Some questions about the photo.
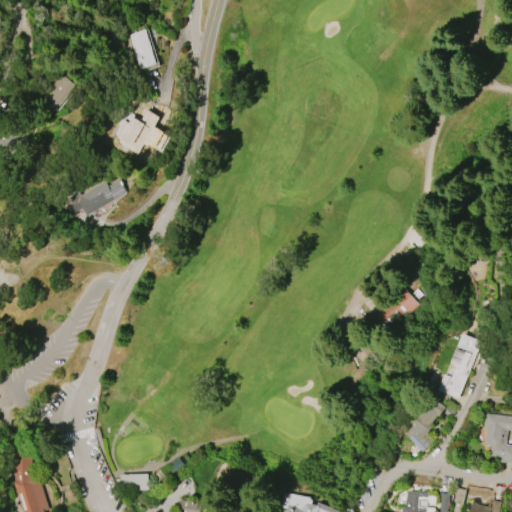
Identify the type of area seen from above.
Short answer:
golf course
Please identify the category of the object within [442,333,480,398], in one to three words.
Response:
house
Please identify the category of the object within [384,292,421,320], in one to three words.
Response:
house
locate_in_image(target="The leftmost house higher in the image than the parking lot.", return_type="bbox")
[52,76,74,110]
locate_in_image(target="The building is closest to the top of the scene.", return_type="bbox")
[130,28,160,70]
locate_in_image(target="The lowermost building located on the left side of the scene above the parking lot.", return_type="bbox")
[71,179,126,216]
